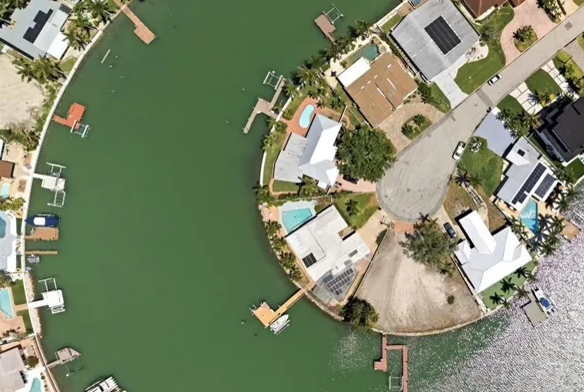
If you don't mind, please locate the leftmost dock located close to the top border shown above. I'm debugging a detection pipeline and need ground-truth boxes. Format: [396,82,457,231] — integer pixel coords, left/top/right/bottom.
[121,3,157,45]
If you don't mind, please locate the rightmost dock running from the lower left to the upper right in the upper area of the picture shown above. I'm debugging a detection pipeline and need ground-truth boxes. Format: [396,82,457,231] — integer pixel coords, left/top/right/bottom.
[243,77,287,134]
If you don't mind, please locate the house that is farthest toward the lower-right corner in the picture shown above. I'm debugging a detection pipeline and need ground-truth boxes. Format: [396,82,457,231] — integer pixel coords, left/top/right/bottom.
[454,211,532,293]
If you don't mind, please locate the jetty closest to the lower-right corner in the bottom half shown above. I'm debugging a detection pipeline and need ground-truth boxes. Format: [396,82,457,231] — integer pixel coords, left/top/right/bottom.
[521,286,548,328]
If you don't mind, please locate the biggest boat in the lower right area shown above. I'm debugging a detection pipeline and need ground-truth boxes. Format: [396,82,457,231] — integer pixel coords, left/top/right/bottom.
[536,289,554,315]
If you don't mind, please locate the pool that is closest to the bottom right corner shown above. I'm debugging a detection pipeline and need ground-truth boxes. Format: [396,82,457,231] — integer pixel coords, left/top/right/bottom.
[518,197,540,236]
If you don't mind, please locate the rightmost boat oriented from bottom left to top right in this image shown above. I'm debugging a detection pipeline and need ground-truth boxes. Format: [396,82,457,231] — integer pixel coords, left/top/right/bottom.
[268,315,289,330]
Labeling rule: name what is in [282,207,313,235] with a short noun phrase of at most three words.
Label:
swimming pool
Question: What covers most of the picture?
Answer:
water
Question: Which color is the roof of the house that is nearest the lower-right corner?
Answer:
white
